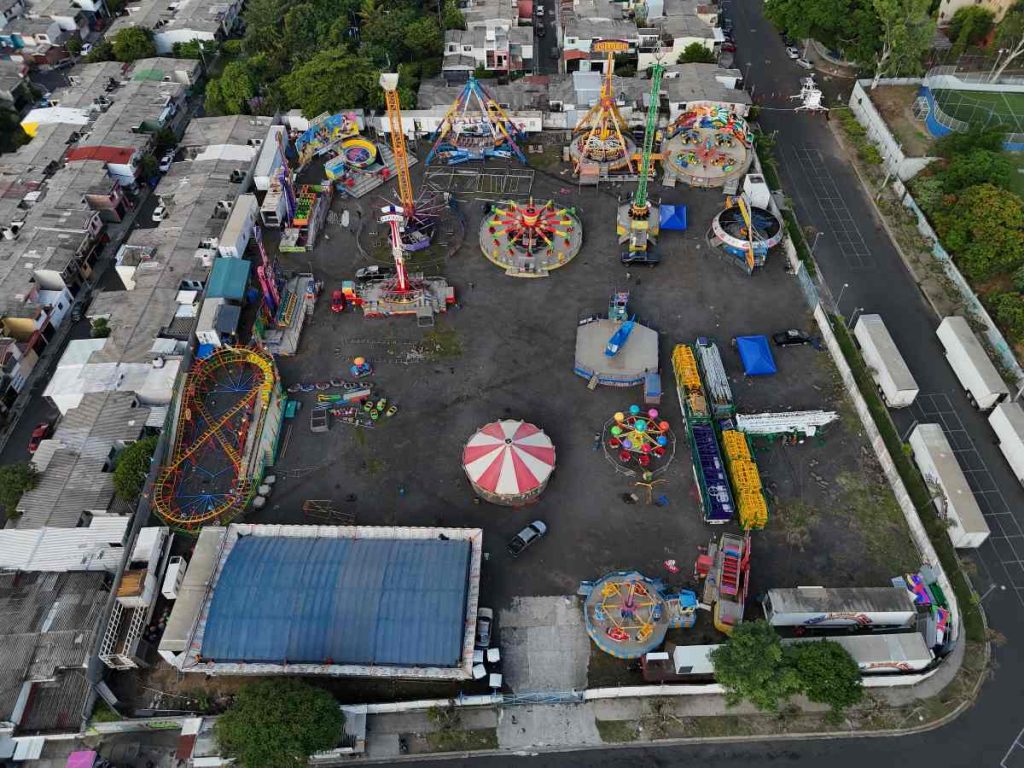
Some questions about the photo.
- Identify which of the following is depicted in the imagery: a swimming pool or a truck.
truck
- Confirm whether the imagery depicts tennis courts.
No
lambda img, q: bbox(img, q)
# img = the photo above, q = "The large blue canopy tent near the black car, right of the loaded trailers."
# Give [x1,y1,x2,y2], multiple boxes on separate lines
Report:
[733,335,776,387]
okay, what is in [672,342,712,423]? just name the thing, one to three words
trailer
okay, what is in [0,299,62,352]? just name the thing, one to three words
house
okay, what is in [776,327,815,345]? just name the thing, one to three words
car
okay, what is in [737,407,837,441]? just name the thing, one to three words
trailer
